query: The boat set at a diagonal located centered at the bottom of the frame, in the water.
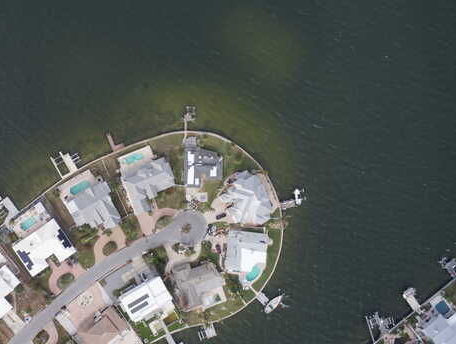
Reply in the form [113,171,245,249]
[264,295,284,315]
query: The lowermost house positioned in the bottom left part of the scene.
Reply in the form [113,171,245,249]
[77,306,133,344]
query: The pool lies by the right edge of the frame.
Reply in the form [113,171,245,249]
[434,300,452,316]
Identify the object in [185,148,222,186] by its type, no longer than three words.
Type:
house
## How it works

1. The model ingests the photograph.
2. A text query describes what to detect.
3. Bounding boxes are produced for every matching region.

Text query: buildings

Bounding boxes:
[13,219,76,277]
[68,181,120,235]
[423,312,456,344]
[173,263,225,311]
[77,306,133,344]
[120,275,174,323]
[0,265,21,319]
[222,171,271,230]
[226,230,268,273]
[124,158,177,215]
[185,148,222,186]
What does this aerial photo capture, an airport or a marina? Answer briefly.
marina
